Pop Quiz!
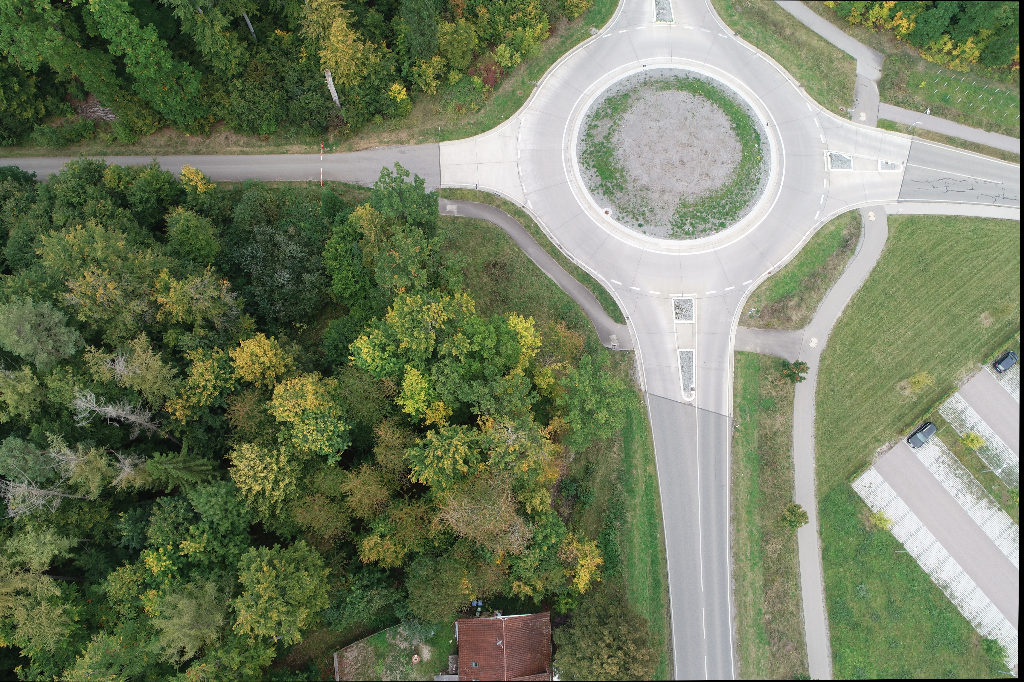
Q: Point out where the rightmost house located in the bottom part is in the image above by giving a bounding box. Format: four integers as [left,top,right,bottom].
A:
[455,611,554,682]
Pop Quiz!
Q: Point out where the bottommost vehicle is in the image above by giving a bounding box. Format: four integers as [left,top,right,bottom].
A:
[907,422,938,448]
